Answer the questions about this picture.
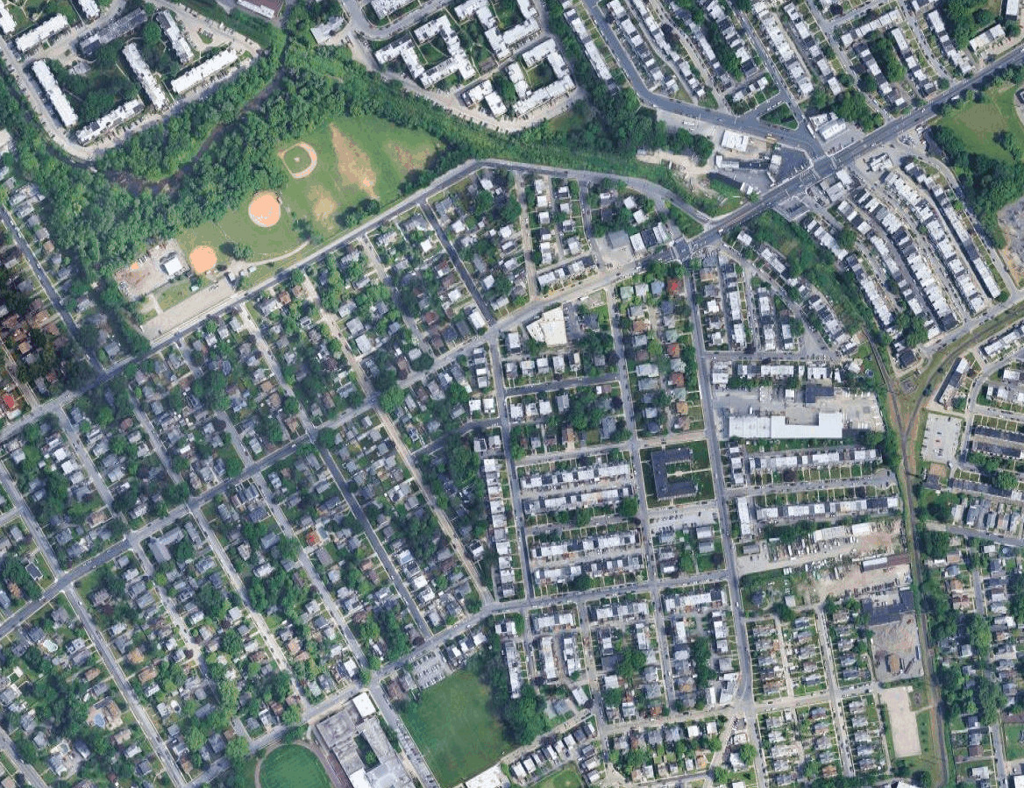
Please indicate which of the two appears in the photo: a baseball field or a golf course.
baseball field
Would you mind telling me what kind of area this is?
residential area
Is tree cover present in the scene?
Yes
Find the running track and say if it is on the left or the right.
left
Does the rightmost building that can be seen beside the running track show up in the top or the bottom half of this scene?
bottom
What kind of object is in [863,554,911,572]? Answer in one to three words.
shed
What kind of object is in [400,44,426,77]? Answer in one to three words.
building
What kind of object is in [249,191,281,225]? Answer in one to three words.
baseball field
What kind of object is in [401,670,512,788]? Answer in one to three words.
sports field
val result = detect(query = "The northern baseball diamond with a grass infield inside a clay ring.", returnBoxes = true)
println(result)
[279,142,317,178]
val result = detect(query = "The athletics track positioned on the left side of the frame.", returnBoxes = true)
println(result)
[256,742,334,788]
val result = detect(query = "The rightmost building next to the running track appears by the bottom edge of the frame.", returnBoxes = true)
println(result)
[317,693,414,788]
